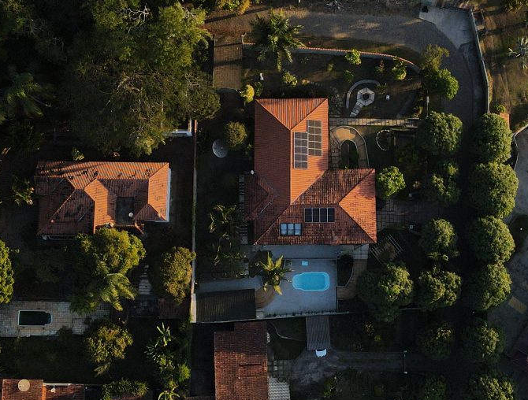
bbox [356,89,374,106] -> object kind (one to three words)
fountain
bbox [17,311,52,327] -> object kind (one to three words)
swimming pool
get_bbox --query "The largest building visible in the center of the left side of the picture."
[34,162,169,235]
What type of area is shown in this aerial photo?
residential area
